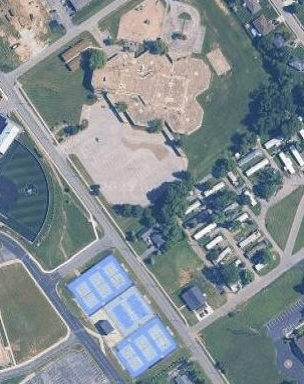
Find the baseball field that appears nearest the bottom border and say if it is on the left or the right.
left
